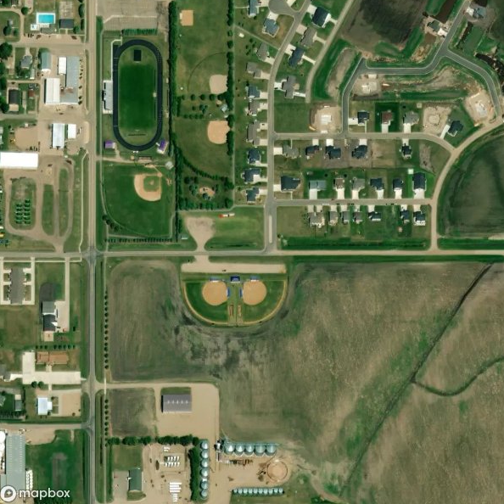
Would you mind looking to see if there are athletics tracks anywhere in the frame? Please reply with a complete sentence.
Yes, there is an athletics track in the image.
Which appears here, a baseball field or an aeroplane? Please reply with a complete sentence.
I can see a baseball field in this picture.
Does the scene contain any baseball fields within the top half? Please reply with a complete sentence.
Yes, there is a baseball field within the top half.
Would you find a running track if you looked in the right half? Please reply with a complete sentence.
No, in the right half there is no running track.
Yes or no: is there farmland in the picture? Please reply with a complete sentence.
Yes, farmland can be seen from above here.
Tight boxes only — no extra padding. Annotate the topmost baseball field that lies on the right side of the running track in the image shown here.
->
[187,52,227,95]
